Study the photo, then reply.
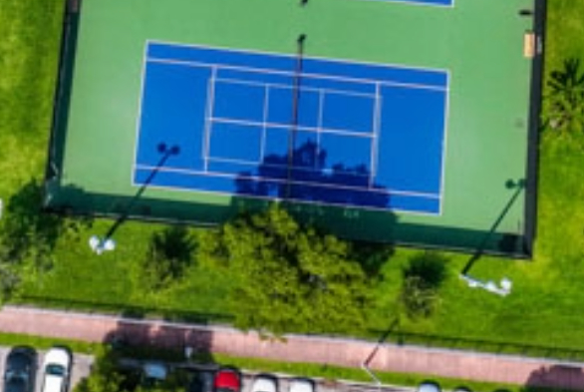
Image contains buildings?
No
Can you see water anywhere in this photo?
No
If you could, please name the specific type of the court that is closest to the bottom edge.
tennis court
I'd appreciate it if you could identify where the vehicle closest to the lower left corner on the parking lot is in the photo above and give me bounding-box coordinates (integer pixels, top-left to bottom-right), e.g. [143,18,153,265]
[4,349,34,392]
